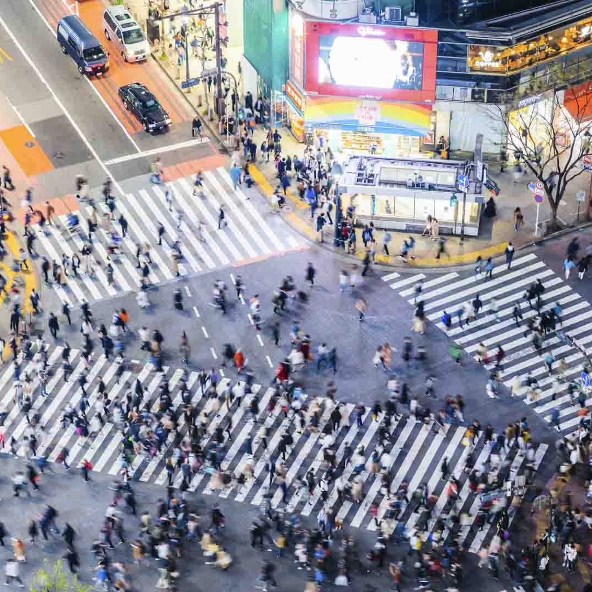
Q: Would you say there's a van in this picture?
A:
Yes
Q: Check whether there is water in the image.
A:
No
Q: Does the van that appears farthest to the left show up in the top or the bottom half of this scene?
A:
top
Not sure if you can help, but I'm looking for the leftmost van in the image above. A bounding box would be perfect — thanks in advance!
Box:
[54,8,110,77]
